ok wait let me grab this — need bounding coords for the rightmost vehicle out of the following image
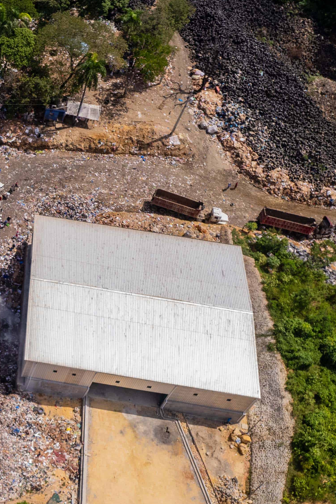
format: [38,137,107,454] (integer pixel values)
[258,206,336,237]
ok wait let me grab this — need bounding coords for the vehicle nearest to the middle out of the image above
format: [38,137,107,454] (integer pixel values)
[150,188,232,225]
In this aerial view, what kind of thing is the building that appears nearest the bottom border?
warehouse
